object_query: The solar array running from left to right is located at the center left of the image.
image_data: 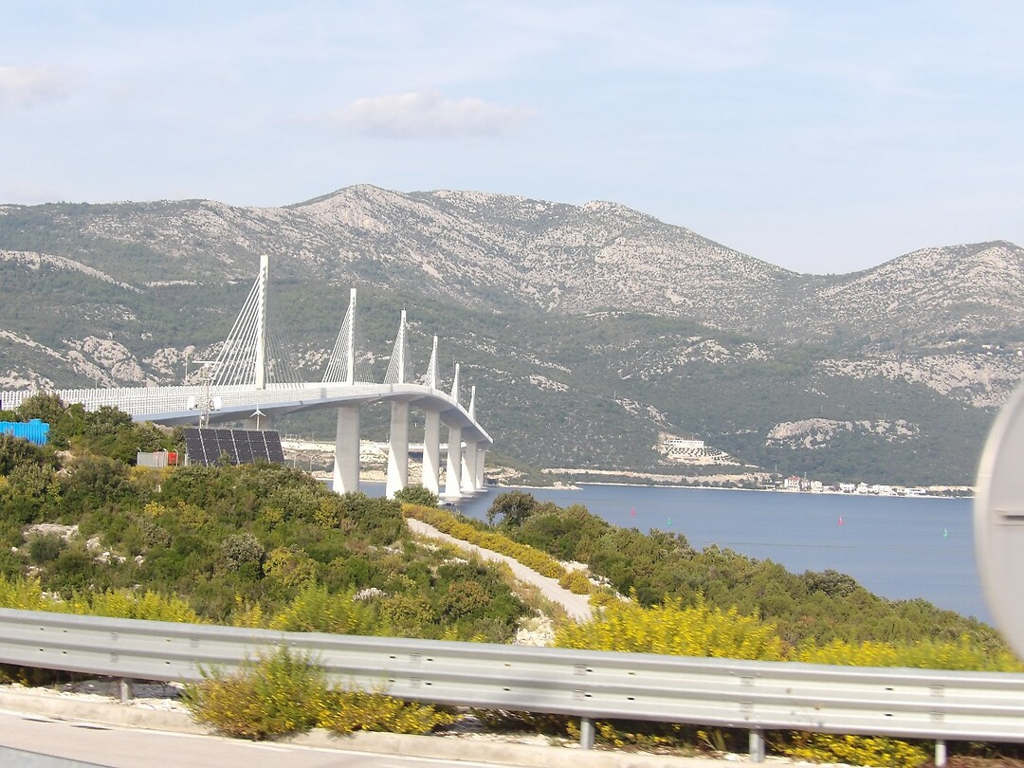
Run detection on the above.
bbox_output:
[180,426,286,473]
